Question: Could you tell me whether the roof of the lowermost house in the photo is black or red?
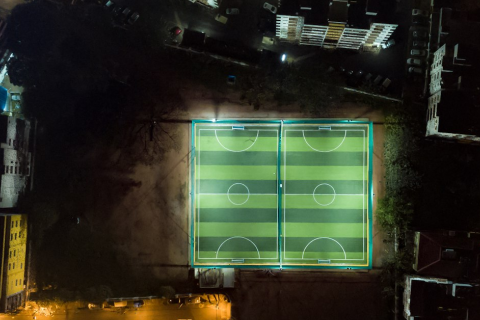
black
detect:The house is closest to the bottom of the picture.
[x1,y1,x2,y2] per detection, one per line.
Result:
[402,275,480,320]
